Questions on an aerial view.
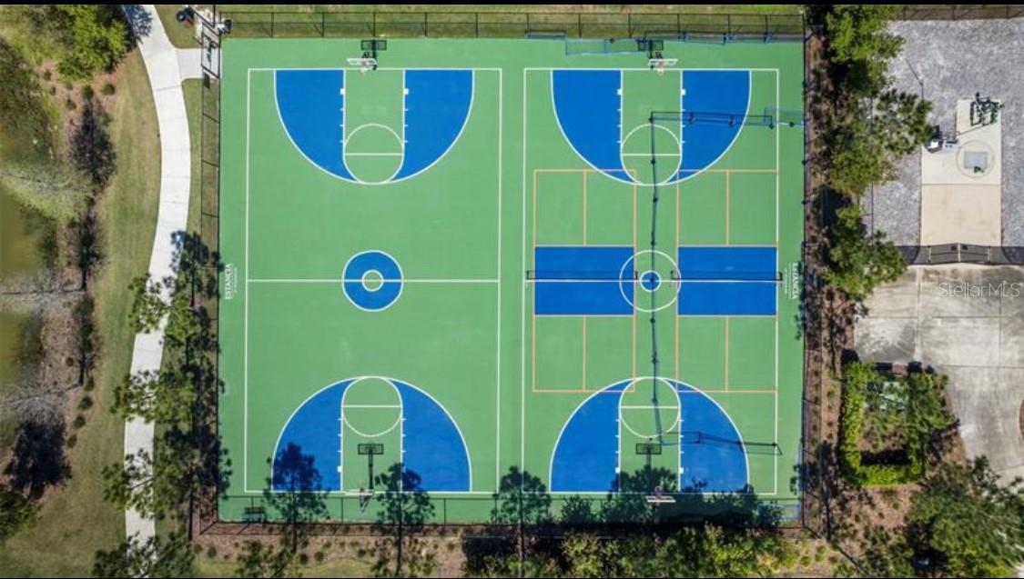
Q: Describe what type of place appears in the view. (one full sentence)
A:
It's a sports ground.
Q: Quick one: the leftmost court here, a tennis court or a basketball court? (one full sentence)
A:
From above, the leftmost court can be identified as a basketball court.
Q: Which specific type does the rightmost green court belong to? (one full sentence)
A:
From above, the rightmost green court can be identified as a basketball court.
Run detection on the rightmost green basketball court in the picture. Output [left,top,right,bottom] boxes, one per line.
[509,37,804,523]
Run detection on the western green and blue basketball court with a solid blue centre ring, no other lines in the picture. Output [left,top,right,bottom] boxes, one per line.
[216,37,512,523]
